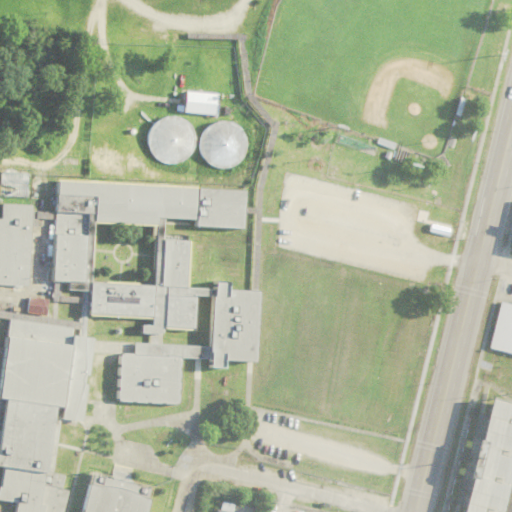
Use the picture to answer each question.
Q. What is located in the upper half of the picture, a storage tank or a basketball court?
storage tank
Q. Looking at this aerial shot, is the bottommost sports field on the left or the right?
right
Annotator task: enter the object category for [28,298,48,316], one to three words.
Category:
shed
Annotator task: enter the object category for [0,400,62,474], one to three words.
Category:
building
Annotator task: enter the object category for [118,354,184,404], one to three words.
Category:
building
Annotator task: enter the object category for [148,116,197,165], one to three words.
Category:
storage tank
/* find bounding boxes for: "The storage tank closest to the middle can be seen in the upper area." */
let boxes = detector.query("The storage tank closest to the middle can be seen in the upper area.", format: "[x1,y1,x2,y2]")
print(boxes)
[199,120,248,170]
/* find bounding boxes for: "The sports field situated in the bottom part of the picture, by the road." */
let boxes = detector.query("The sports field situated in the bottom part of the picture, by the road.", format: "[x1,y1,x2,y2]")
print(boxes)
[251,247,445,442]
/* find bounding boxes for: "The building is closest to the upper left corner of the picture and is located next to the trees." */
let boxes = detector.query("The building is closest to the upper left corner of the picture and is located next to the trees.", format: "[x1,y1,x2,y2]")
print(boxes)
[0,170,32,198]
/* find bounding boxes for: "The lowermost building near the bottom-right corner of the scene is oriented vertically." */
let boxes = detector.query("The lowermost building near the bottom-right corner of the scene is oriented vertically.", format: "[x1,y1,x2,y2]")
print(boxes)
[462,395,512,512]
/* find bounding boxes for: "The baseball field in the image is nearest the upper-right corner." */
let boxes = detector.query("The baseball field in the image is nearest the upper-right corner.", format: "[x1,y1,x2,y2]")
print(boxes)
[254,0,498,156]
